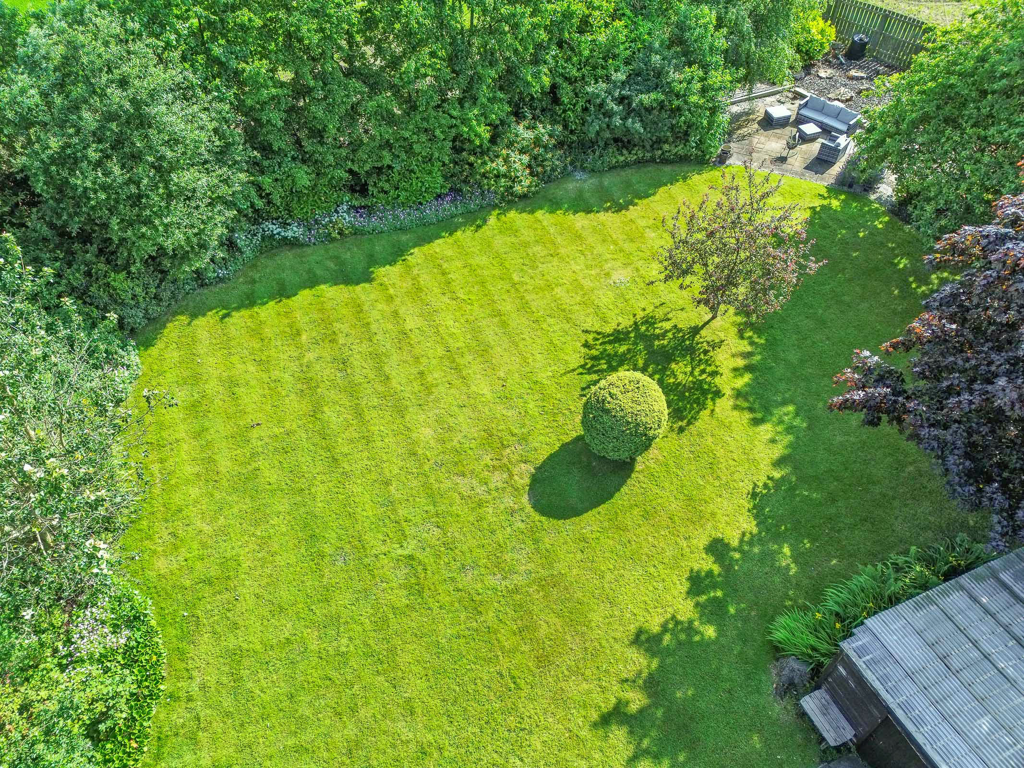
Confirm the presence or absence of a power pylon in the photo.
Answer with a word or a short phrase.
No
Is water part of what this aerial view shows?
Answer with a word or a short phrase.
No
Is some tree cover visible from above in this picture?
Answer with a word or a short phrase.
Yes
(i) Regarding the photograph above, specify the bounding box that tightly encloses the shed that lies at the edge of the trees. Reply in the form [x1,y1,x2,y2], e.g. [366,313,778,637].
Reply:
[813,548,1024,768]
